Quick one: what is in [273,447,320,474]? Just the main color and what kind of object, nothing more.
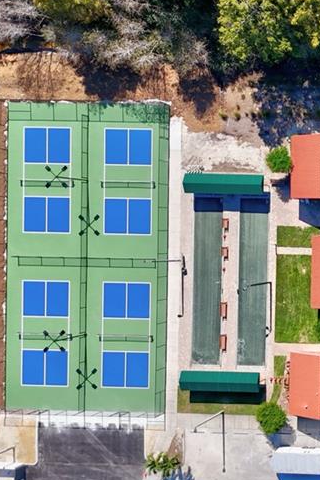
white trailer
